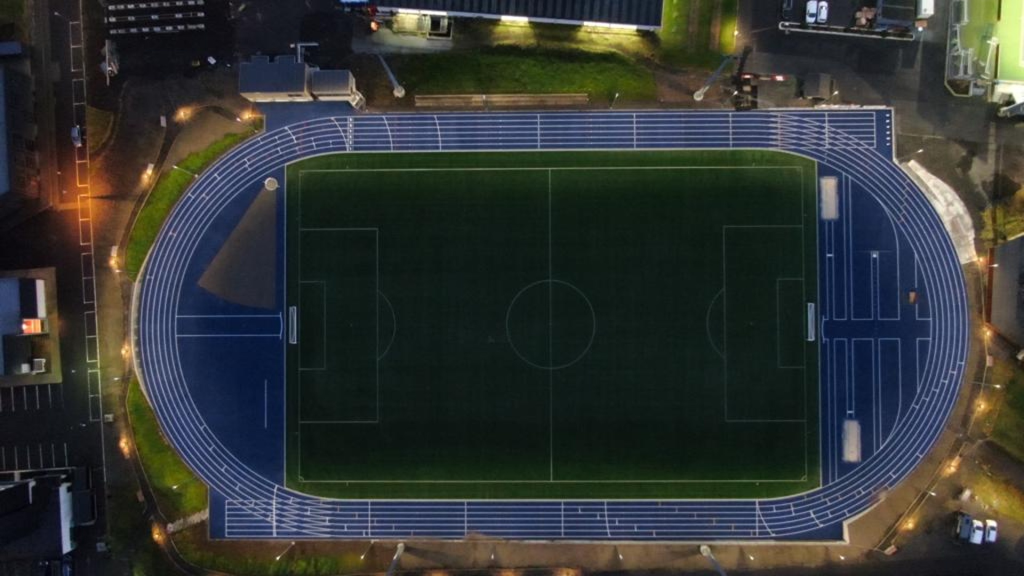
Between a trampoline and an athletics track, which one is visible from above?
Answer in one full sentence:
The image shows an athletics track.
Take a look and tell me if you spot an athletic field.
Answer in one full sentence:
Yes, this view includes an athletic field.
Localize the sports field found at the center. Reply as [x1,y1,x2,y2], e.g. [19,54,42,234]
[284,149,823,500]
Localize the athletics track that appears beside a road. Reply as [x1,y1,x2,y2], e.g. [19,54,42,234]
[138,110,971,539]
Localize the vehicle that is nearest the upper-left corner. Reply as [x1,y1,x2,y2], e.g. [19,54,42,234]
[70,125,83,146]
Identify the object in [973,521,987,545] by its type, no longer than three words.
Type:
vehicle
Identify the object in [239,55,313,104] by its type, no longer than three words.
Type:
building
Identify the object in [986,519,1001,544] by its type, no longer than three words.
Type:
vehicle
